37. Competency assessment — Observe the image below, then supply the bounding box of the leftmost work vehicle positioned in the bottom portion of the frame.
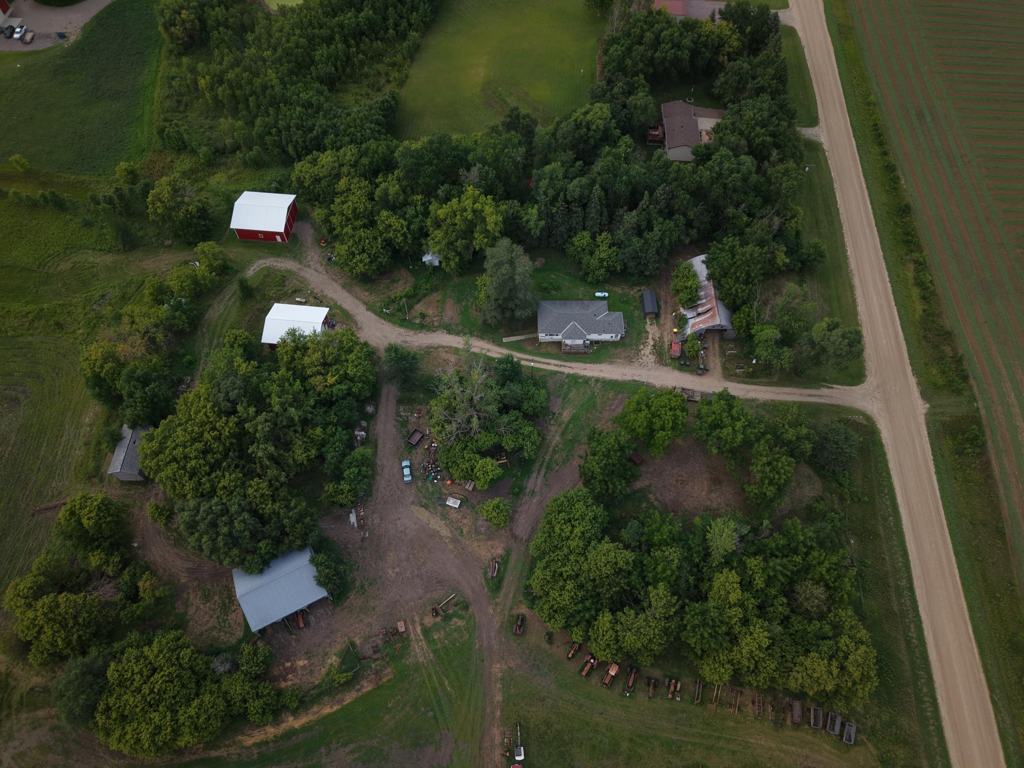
[291,609,306,628]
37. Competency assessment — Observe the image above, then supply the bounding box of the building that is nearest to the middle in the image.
[536,300,625,345]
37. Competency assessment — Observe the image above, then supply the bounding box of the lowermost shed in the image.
[233,536,333,635]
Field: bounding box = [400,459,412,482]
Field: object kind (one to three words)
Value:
vehicle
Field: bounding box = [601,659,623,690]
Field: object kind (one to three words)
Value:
work vehicle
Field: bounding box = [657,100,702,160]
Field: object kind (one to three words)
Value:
house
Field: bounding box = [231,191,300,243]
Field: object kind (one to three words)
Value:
barn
